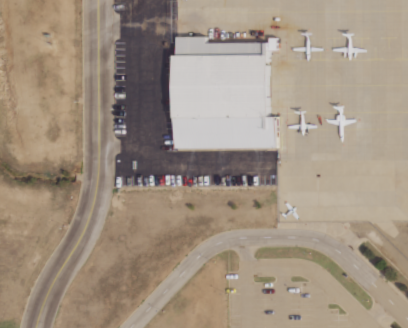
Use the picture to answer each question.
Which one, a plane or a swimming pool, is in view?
plane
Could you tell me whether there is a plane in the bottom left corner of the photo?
No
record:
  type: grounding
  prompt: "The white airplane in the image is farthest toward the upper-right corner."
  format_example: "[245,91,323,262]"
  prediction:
[331,32,367,60]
